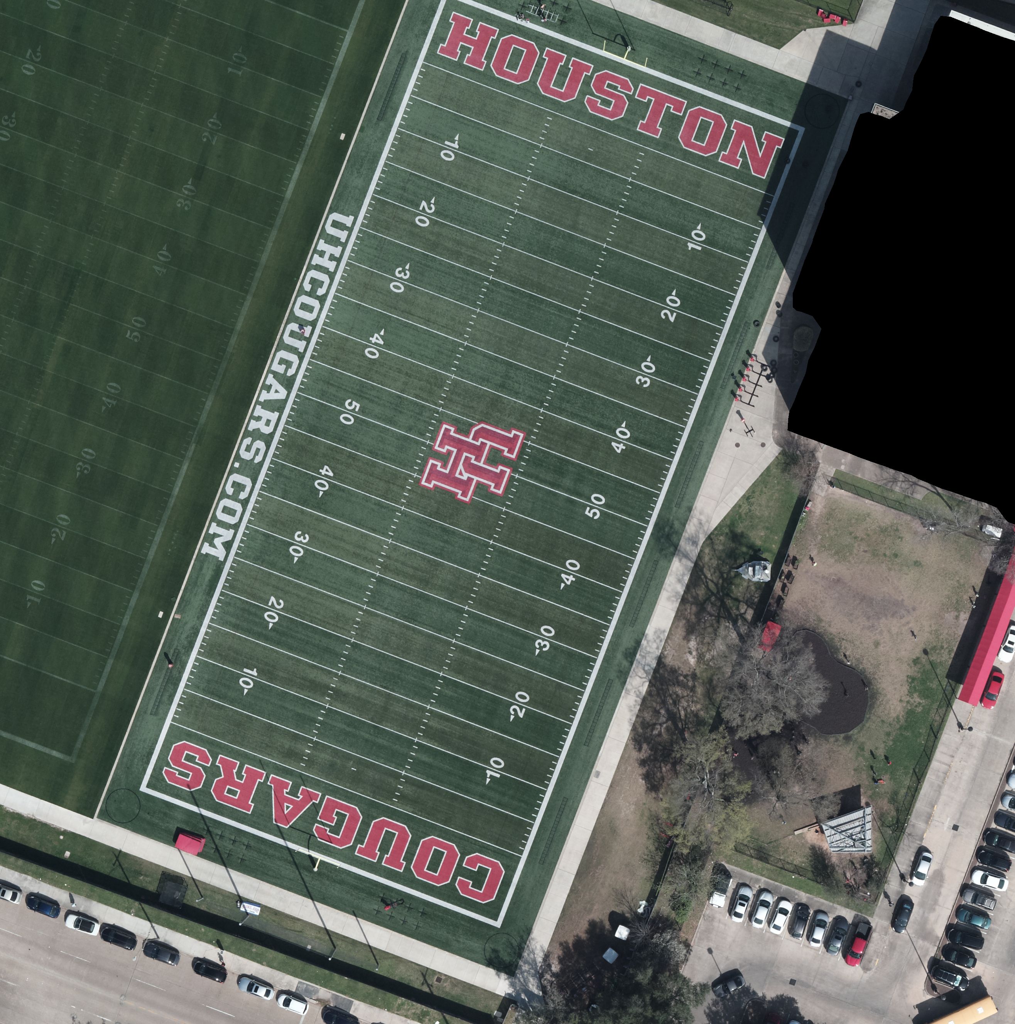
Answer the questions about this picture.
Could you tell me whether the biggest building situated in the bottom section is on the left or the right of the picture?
right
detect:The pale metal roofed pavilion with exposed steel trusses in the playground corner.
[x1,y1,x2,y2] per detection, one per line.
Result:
[821,805,873,853]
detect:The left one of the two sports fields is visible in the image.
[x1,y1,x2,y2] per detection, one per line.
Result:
[0,0,405,816]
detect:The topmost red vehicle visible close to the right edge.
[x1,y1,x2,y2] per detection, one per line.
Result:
[983,671,1005,710]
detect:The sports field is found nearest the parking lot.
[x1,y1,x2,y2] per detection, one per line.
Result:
[96,0,850,977]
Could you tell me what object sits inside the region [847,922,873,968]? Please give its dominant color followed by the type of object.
red truck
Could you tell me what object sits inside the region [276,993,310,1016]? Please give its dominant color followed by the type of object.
white car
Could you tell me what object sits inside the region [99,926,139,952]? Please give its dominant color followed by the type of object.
black car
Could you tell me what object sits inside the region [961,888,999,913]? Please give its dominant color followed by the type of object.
gray truck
